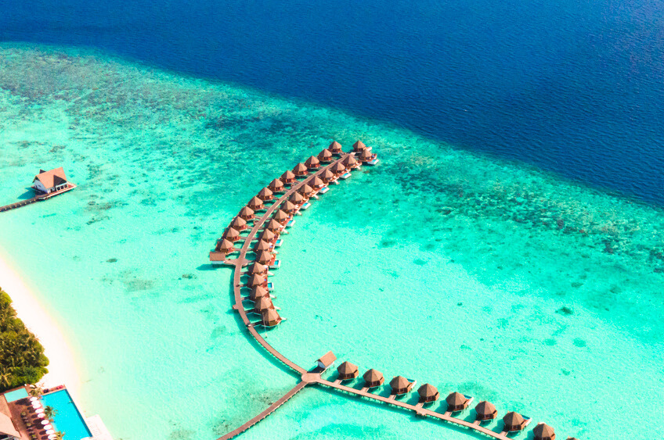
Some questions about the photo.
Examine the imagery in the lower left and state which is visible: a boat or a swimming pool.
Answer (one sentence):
Looking in the lower left, you will find a swimming pool.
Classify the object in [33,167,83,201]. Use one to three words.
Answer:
house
